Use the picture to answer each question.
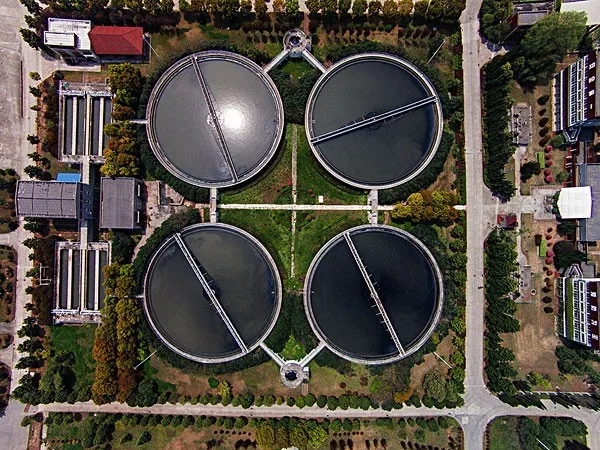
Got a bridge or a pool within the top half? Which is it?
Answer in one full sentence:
It is a bridge that can be seen within the top half.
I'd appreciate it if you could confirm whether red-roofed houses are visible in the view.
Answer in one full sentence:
Yes, you can see a red-roofed house in this photo.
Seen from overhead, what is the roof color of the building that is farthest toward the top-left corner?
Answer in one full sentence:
The color of the roof on the building that is farthest toward the top-left corner is white.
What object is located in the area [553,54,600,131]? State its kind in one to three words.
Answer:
building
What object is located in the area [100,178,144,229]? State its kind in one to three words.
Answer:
house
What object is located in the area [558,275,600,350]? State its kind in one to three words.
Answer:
building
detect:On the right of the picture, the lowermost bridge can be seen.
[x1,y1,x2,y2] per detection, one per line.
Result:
[343,233,407,355]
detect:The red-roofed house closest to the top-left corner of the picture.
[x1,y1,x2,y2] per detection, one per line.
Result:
[90,26,146,59]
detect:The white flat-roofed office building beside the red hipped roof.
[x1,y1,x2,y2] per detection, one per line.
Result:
[43,17,98,58]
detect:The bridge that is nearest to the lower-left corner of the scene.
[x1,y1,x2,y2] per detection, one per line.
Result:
[173,234,251,353]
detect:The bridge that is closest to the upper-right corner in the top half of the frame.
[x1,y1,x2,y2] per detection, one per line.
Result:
[309,96,439,145]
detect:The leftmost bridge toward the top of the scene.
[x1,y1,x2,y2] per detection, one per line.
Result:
[190,54,241,184]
